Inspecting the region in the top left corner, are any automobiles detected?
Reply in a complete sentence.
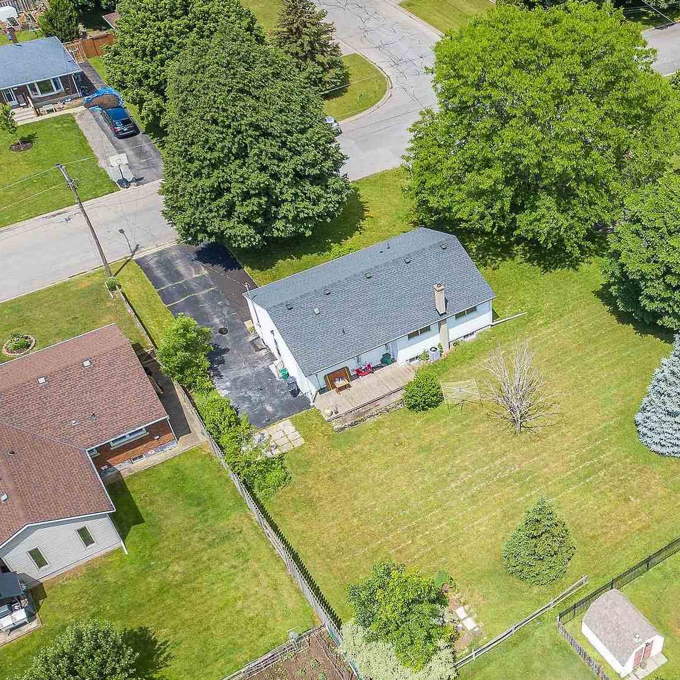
Yes, you'll find an automobile in the top left corner.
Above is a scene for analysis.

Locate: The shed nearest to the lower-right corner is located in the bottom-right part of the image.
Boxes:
[580,583,671,680]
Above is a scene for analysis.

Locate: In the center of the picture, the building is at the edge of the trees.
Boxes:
[237,227,524,404]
